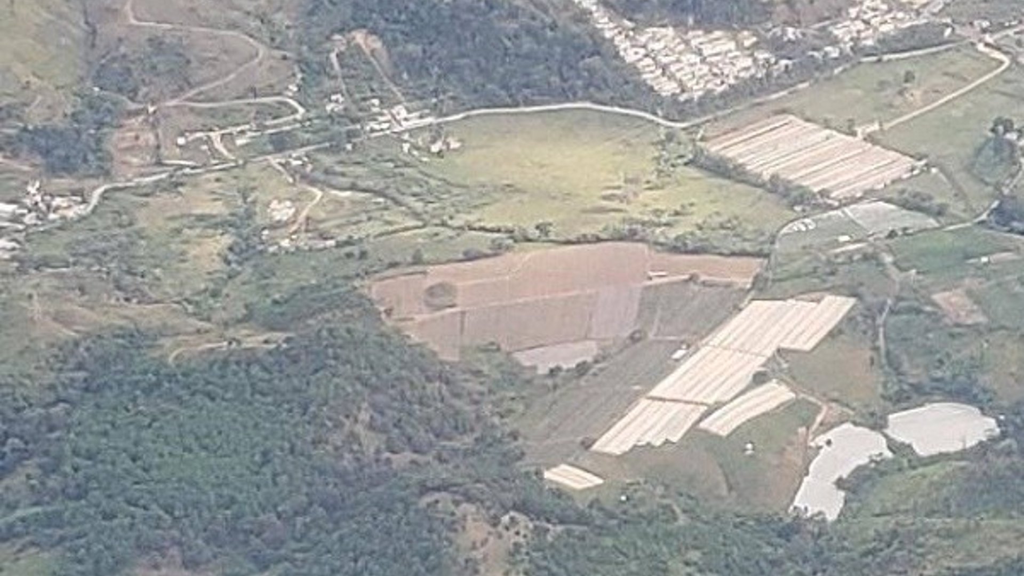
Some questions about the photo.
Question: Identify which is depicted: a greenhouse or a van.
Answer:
greenhouse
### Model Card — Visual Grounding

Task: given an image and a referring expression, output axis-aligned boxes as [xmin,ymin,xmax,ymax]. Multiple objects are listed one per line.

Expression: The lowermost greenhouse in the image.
[545,464,604,487]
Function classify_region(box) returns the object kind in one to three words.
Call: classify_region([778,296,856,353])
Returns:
greenhouse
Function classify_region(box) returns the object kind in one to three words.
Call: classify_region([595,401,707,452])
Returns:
greenhouse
